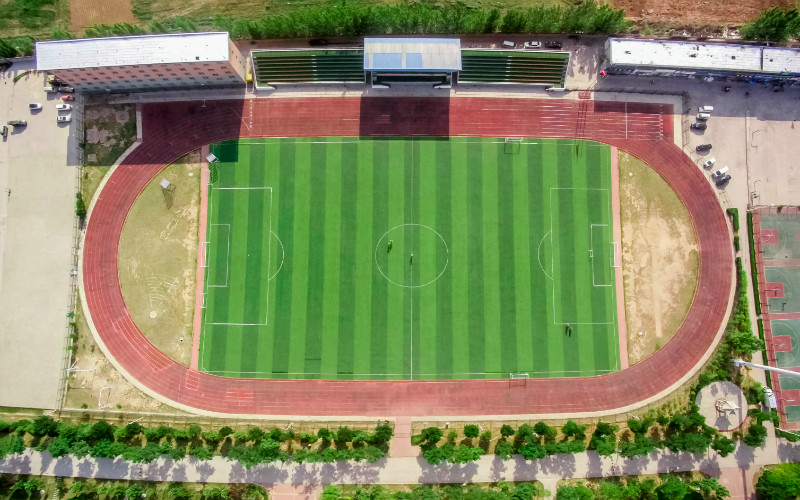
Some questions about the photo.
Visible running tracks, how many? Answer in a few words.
1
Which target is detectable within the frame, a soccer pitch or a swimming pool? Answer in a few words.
soccer pitch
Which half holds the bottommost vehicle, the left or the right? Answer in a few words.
right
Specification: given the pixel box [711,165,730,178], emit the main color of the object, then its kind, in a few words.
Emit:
white vehicle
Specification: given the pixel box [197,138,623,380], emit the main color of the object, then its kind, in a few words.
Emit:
green soccer field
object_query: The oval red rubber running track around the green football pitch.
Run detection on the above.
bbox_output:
[77,96,738,422]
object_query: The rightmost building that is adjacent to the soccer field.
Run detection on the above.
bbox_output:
[604,36,762,81]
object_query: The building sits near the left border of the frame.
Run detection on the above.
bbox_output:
[35,31,246,90]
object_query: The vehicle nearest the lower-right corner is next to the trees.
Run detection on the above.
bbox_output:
[762,384,782,410]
